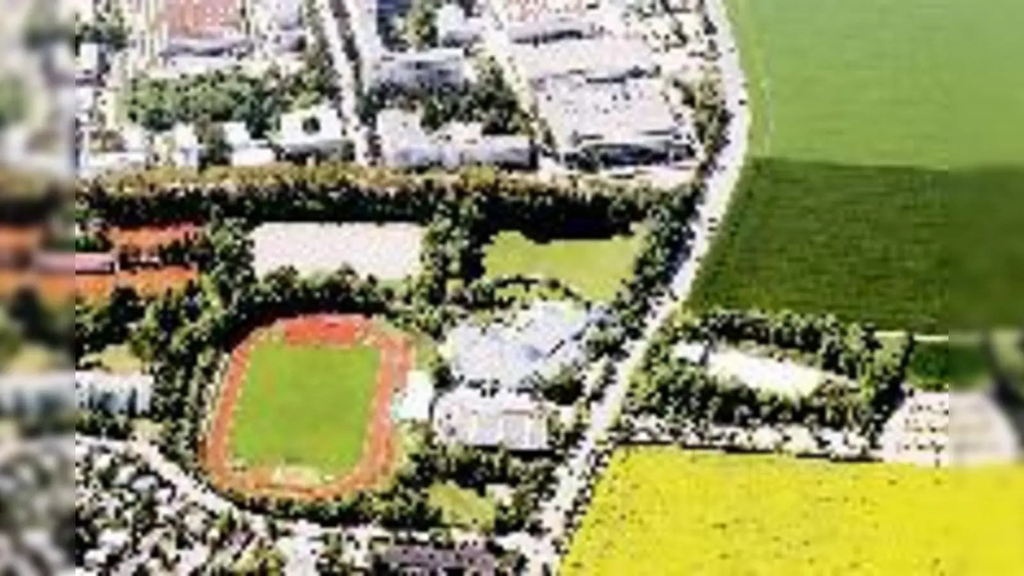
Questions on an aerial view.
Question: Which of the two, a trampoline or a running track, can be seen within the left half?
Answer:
running track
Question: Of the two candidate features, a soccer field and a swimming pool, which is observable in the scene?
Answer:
soccer field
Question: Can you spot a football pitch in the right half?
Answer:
No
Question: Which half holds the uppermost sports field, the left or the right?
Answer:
left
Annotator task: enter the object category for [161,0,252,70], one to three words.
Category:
building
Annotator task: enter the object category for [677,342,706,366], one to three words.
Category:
house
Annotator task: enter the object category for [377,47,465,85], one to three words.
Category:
building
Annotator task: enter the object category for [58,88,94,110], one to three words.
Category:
shed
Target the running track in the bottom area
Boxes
[200,319,412,508]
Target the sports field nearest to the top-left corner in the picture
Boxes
[252,222,428,281]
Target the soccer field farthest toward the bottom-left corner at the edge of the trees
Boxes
[226,346,389,472]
